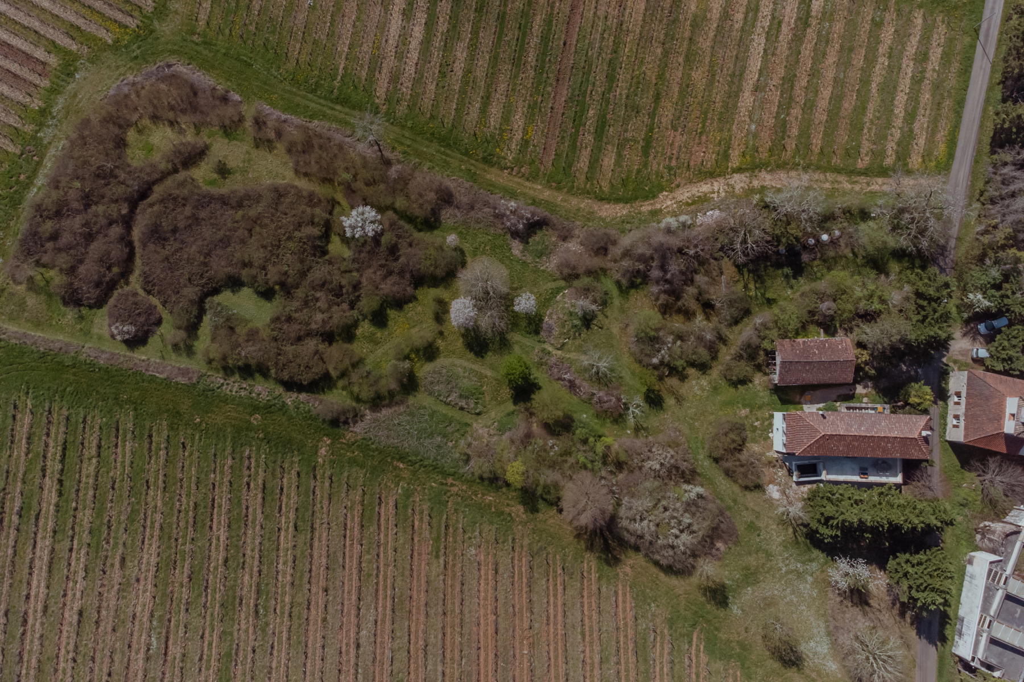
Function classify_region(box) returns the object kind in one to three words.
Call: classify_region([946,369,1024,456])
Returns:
house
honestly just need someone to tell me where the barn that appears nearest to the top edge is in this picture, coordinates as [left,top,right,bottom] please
[769,338,857,385]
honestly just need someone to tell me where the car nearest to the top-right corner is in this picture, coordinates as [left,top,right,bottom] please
[979,316,1014,335]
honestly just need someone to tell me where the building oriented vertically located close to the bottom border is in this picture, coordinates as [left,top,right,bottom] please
[951,524,1024,682]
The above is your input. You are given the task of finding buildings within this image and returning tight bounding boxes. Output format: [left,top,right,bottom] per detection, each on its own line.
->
[951,524,1024,682]
[769,338,857,385]
[946,369,1024,456]
[774,410,932,459]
